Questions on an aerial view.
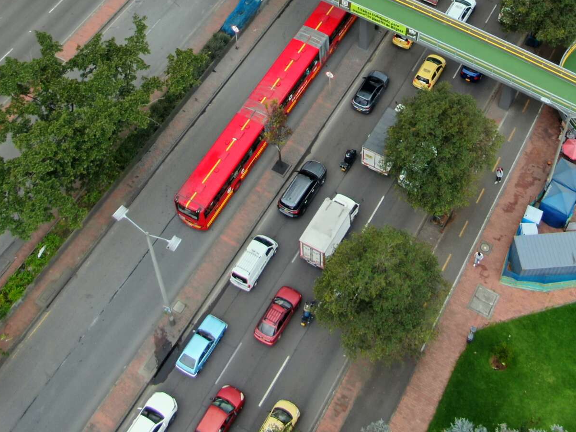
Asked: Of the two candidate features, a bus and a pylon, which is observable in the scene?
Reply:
bus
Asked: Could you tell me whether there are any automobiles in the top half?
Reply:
Yes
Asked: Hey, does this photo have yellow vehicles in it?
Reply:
Yes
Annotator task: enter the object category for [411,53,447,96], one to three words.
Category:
car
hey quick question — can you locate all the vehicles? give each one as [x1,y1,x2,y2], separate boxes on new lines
[190,383,243,432]
[353,102,412,185]
[411,53,447,96]
[296,300,315,327]
[177,2,352,233]
[128,391,177,432]
[278,162,326,220]
[175,316,226,382]
[390,35,413,50]
[229,233,278,296]
[251,285,302,351]
[348,71,390,120]
[442,0,477,30]
[461,66,484,84]
[256,395,299,432]
[295,191,363,279]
